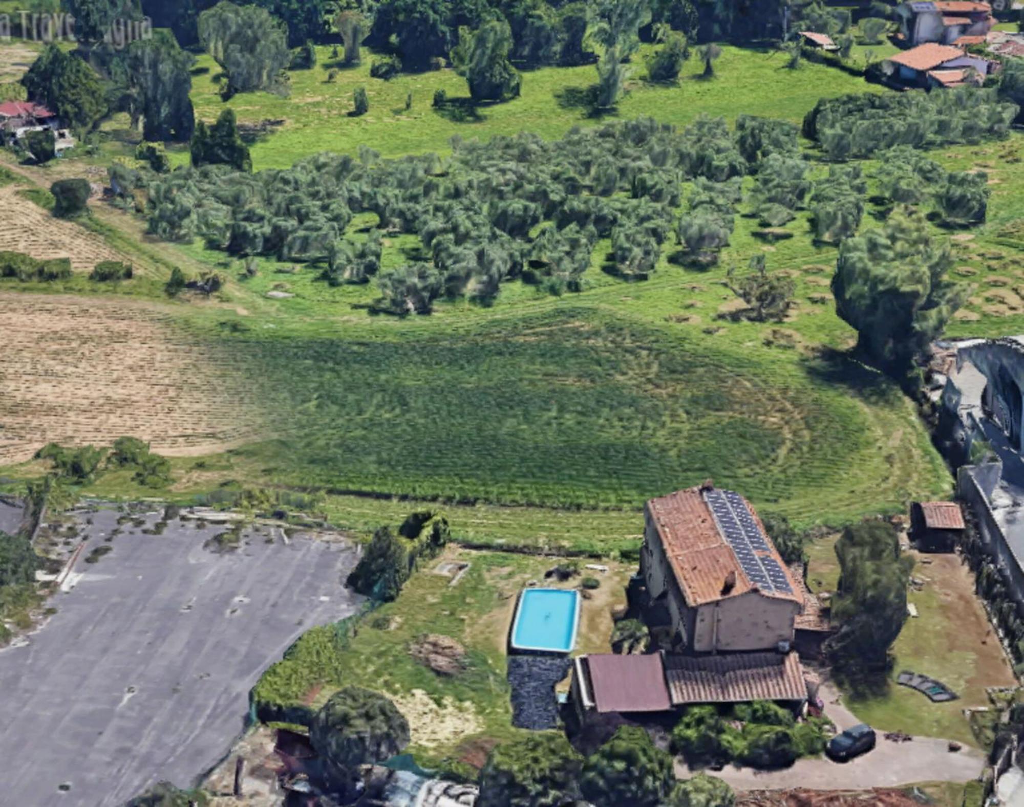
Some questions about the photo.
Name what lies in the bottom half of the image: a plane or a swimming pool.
swimming pool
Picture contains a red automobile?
No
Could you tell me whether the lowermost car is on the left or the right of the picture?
right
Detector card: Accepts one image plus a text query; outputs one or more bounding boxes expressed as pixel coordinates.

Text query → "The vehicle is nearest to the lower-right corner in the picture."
[828,724,877,762]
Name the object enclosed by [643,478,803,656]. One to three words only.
house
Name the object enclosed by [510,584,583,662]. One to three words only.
swimming pool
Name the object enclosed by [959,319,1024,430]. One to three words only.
hangar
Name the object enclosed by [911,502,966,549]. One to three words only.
shed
